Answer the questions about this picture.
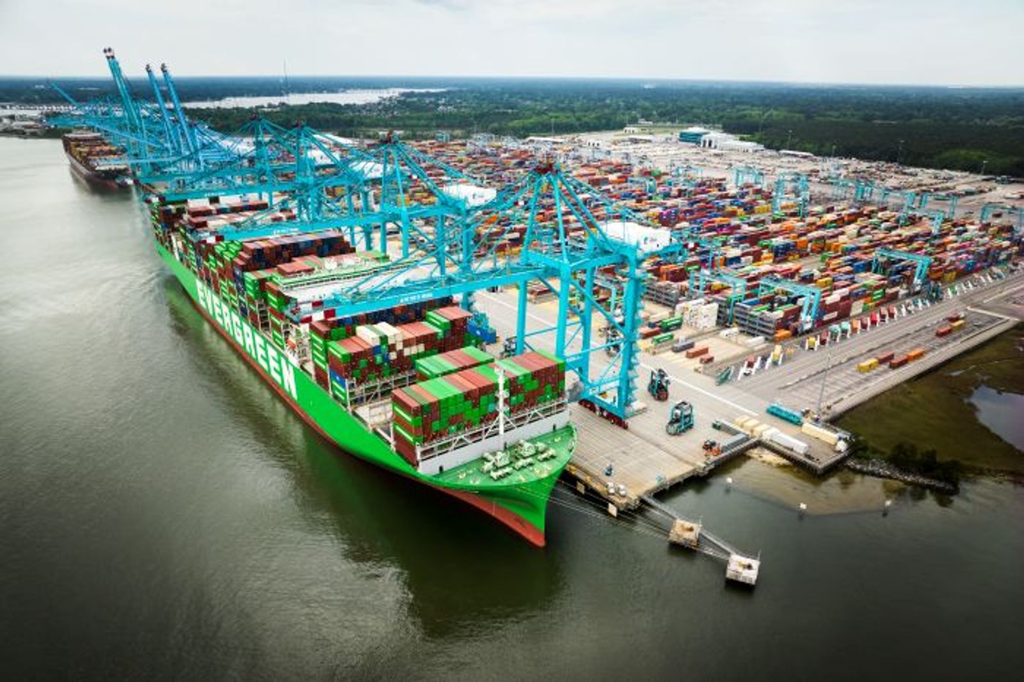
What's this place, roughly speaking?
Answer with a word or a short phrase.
port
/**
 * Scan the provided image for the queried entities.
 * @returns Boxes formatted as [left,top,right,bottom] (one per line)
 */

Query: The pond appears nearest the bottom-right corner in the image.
[966,384,1024,451]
